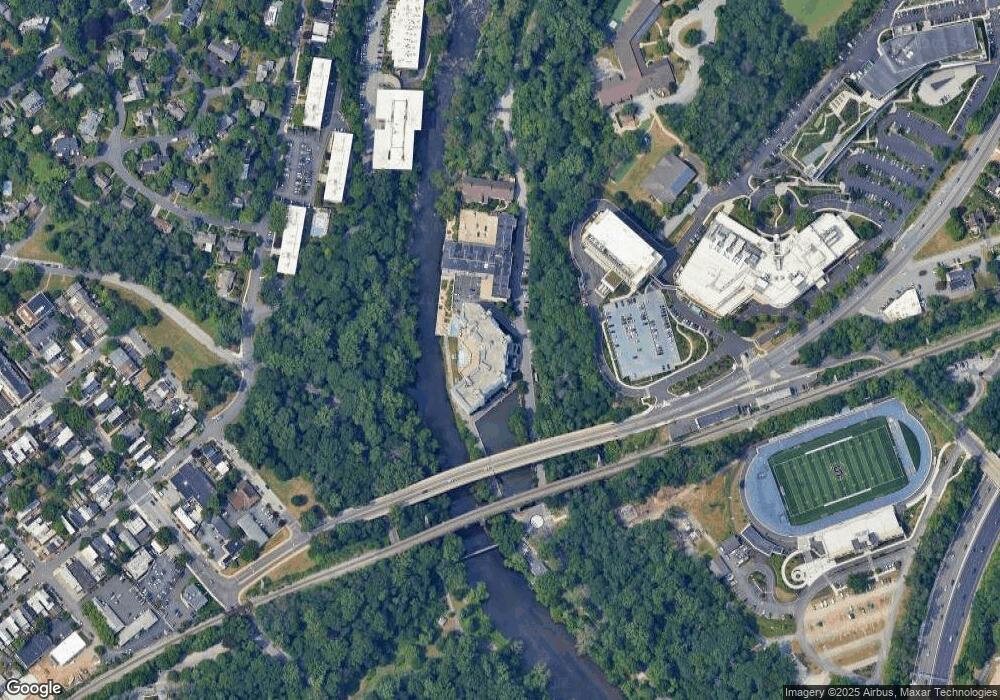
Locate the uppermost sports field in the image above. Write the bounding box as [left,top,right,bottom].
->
[777,0,859,39]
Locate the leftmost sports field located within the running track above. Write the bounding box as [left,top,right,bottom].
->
[770,418,908,522]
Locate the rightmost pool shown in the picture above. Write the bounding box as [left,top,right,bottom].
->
[448,315,462,337]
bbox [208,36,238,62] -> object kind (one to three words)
house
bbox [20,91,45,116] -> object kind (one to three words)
house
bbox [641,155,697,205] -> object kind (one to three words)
building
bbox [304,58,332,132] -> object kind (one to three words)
building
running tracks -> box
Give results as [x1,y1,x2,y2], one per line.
[744,396,934,537]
